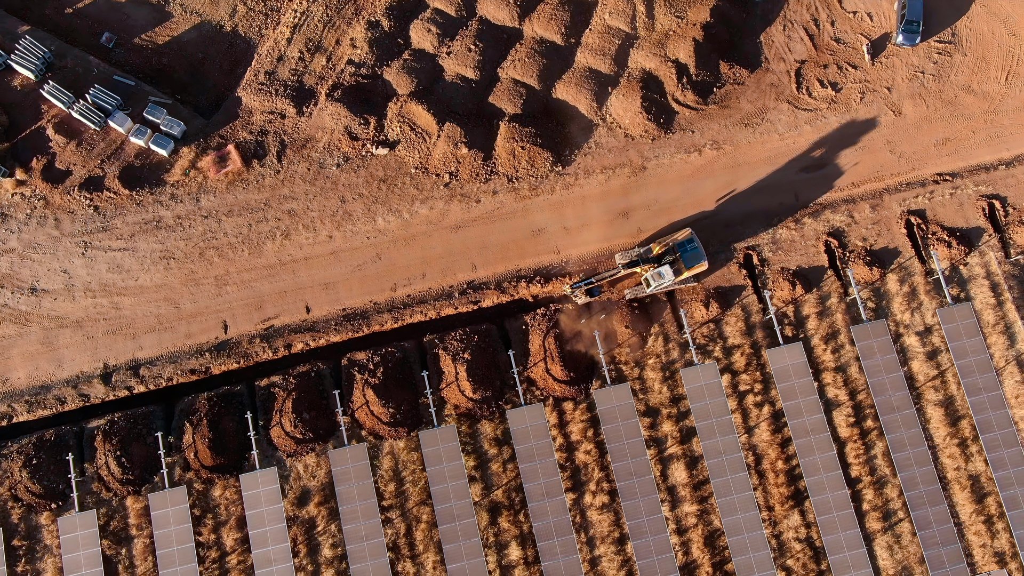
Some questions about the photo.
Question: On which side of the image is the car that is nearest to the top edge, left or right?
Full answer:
The car that is nearest to the top edge appears in the right half of the scene.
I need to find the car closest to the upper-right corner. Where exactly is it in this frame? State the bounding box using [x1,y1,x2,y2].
[892,0,927,48]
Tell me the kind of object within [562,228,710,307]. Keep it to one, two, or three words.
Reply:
work vehicle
